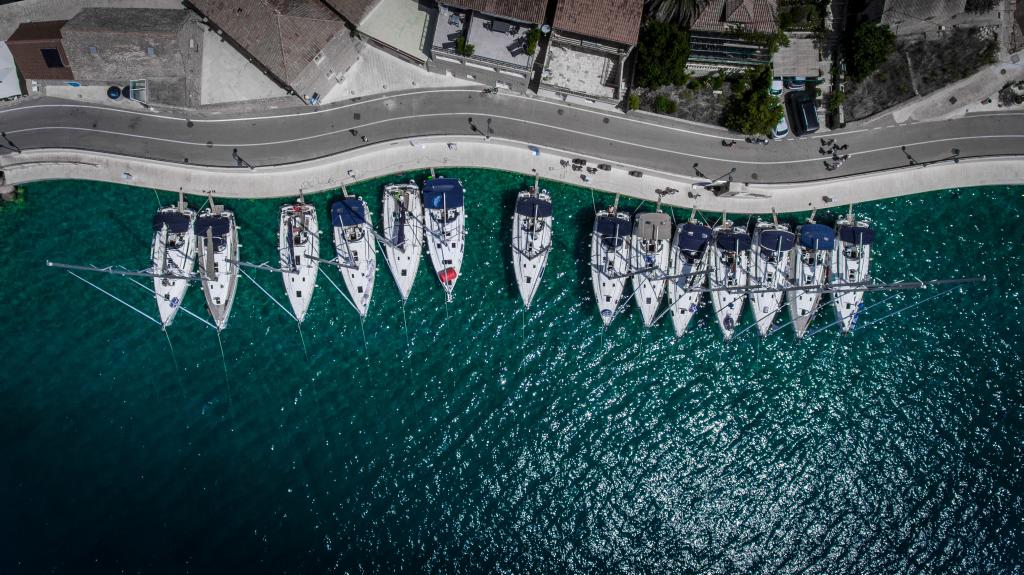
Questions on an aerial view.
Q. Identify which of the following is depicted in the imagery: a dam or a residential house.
residential house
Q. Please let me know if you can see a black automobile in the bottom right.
No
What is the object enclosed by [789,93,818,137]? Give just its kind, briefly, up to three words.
car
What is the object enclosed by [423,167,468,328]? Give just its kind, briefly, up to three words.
boat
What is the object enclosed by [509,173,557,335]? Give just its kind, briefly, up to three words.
boat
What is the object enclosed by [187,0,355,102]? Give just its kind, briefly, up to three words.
house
